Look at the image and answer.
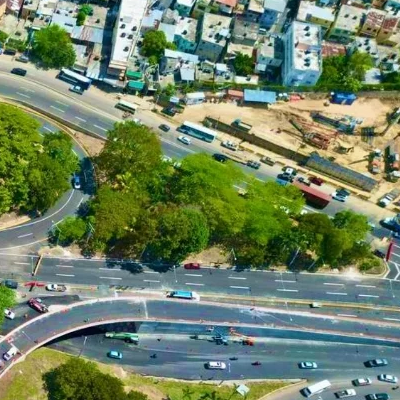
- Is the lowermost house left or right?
right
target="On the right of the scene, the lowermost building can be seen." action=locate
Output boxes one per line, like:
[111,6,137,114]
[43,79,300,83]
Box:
[301,152,379,198]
